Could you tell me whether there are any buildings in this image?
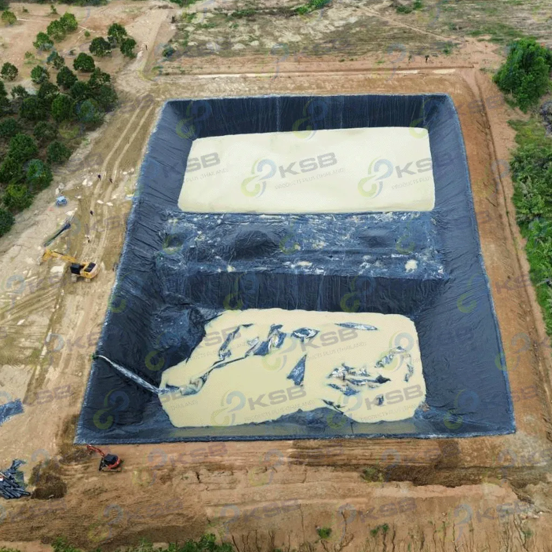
No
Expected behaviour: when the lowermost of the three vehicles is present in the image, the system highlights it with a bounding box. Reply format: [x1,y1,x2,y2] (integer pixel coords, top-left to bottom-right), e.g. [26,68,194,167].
[91,445,121,476]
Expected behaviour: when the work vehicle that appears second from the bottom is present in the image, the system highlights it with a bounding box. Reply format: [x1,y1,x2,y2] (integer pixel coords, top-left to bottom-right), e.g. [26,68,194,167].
[45,249,100,286]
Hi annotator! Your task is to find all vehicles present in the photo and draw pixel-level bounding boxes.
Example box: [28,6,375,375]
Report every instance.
[45,249,100,286]
[53,192,68,209]
[91,445,121,476]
